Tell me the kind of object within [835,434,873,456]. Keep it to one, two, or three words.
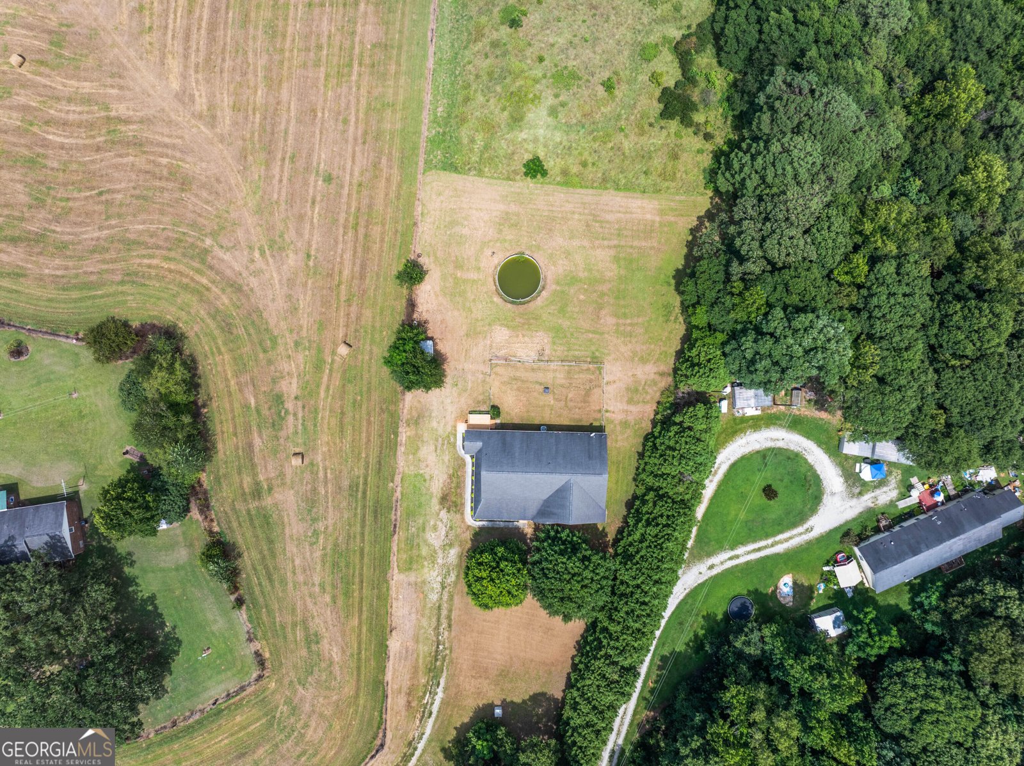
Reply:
shed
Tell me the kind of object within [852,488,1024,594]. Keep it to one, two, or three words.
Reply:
house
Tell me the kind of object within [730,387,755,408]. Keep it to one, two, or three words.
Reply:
shed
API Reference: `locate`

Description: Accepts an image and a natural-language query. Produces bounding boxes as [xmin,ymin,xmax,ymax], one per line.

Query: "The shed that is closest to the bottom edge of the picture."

[809,607,848,639]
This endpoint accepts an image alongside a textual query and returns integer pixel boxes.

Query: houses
[852,488,1024,594]
[0,501,86,570]
[464,429,609,526]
